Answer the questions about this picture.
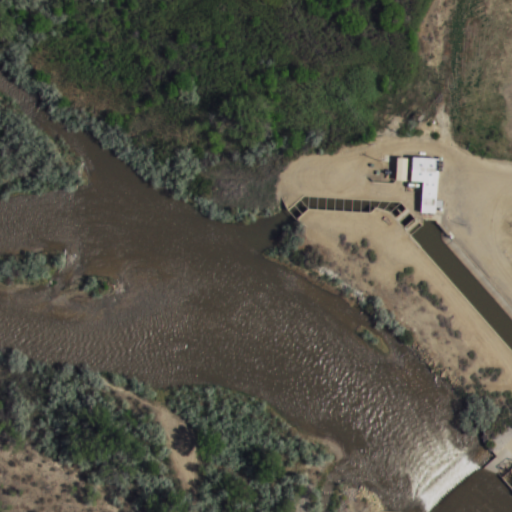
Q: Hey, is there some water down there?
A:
Yes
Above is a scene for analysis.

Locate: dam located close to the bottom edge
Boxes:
[416,454,480,512]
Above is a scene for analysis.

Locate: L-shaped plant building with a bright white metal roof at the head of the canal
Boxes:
[412,156,441,214]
